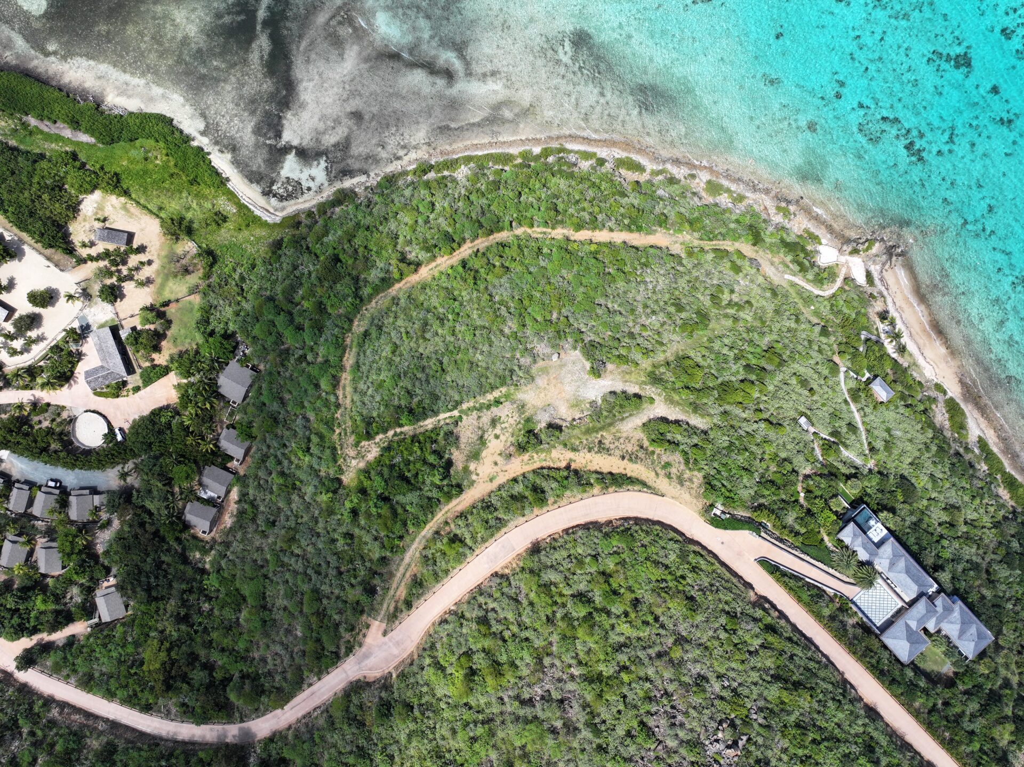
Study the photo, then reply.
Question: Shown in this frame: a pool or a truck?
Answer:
pool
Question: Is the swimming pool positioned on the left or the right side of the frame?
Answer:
right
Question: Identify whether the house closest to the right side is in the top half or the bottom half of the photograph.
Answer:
bottom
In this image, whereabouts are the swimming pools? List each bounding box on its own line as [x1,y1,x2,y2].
[851,504,898,546]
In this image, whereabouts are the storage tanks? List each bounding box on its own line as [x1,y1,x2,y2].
[71,411,113,449]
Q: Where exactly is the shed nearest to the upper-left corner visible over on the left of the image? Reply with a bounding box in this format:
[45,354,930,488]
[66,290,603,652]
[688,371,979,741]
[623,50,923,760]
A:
[94,228,131,246]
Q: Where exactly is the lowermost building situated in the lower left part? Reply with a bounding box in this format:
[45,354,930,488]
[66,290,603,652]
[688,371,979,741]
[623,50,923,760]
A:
[96,585,128,623]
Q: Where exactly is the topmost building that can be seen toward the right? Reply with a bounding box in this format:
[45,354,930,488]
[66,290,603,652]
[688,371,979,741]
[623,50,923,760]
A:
[867,377,895,402]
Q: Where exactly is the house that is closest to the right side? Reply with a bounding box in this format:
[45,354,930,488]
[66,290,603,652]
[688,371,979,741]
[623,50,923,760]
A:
[923,591,995,662]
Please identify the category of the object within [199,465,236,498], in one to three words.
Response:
house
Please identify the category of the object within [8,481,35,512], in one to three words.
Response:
house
